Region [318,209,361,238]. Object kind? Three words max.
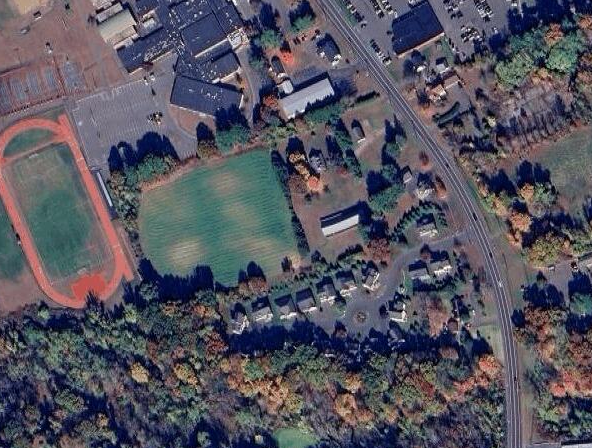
barn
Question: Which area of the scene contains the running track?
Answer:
left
